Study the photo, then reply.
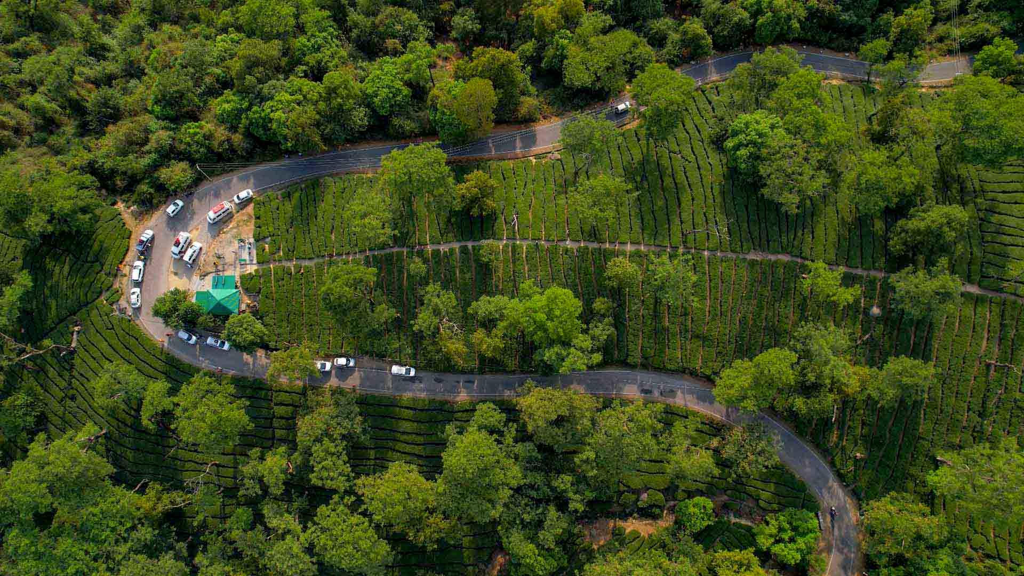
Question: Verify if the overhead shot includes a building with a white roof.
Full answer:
No, no building with a white roof is visible in the scene.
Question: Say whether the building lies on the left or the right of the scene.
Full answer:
It is on the left.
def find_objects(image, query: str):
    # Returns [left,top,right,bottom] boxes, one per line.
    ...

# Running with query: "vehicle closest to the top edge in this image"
[613,103,632,117]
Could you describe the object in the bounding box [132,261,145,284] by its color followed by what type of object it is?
white vehicle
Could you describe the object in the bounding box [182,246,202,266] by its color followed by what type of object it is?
white vehicle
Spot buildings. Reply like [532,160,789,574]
[192,276,242,317]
